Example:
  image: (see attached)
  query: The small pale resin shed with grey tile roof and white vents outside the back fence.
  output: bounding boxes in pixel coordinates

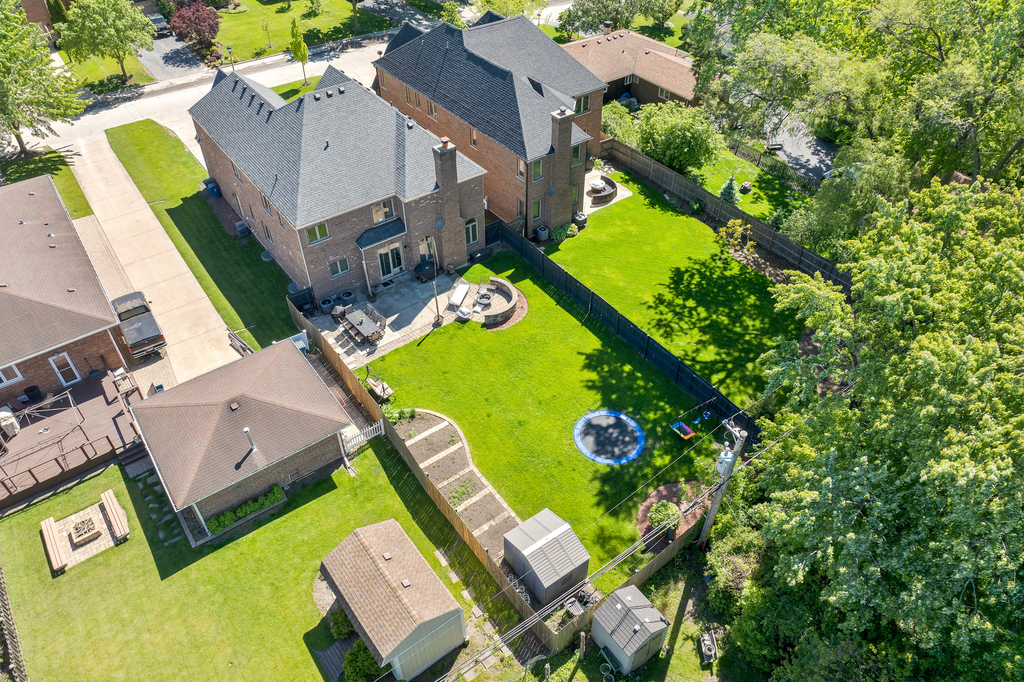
[593,586,670,673]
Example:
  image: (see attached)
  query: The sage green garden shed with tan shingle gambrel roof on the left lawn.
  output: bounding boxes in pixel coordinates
[319,519,466,675]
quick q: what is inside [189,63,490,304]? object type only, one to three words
house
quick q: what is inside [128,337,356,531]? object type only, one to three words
building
